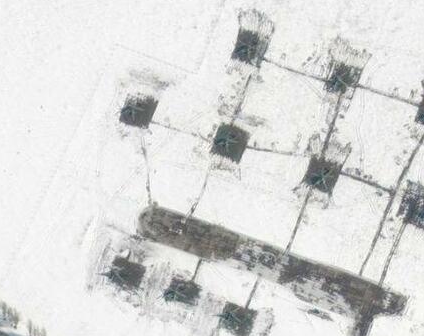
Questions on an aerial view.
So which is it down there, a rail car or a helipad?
helipad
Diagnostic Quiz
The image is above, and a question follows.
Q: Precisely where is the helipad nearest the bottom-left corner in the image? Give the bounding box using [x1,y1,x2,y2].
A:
[109,254,148,288]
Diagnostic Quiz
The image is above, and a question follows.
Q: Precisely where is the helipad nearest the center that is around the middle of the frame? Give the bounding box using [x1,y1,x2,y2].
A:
[209,125,251,175]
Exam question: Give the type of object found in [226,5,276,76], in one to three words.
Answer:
helipad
